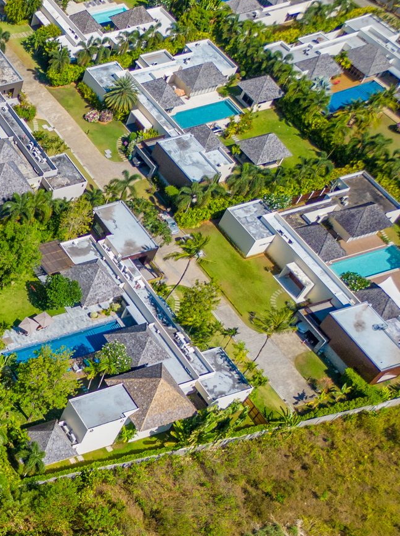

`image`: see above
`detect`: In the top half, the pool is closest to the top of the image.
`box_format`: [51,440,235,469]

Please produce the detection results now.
[91,2,131,22]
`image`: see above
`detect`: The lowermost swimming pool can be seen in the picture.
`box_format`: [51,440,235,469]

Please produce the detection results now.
[0,317,125,366]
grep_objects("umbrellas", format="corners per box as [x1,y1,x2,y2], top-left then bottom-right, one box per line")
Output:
[31,311,54,333]
[17,318,40,339]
